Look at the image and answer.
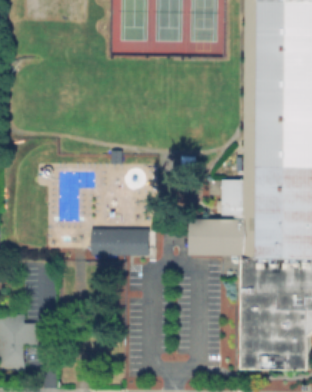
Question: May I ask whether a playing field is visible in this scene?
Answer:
Yes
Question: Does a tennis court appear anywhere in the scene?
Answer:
Yes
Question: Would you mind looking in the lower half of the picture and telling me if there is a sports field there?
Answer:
No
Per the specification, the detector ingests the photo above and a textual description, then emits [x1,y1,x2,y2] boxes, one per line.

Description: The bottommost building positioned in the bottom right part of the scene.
[242,260,312,370]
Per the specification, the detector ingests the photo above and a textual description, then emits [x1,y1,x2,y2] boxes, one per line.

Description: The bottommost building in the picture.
[0,320,37,370]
